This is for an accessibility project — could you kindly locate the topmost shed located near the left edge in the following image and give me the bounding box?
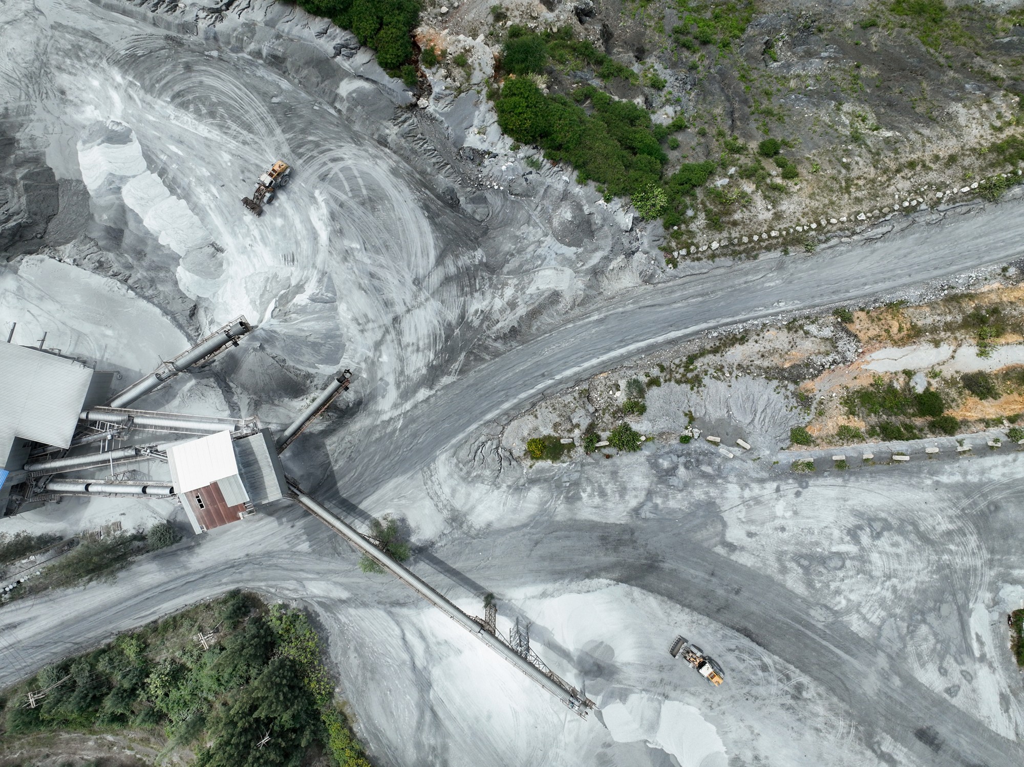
[0,323,134,470]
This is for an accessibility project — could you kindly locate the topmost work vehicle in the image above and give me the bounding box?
[240,152,289,217]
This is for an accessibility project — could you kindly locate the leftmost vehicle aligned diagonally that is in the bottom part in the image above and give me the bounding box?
[666,632,727,691]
